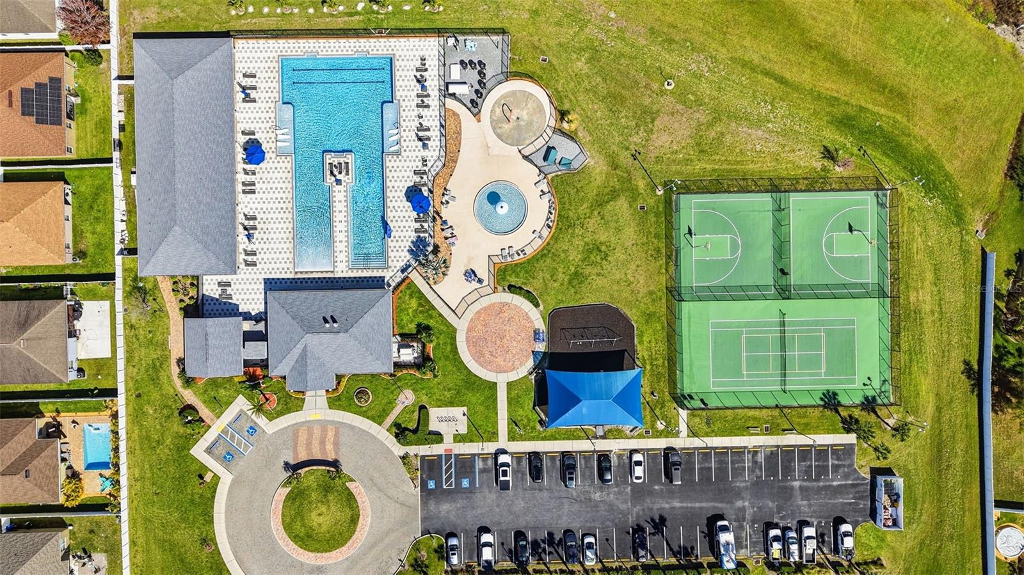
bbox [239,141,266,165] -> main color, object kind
blue umbrella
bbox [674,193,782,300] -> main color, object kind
green basketball court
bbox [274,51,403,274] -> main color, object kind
blue swimming pool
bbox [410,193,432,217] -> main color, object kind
blue umbrella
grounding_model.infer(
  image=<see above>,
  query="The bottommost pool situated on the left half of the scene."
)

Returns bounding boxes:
[82,421,113,473]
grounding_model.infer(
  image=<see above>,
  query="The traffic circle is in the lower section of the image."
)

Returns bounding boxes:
[214,410,420,575]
